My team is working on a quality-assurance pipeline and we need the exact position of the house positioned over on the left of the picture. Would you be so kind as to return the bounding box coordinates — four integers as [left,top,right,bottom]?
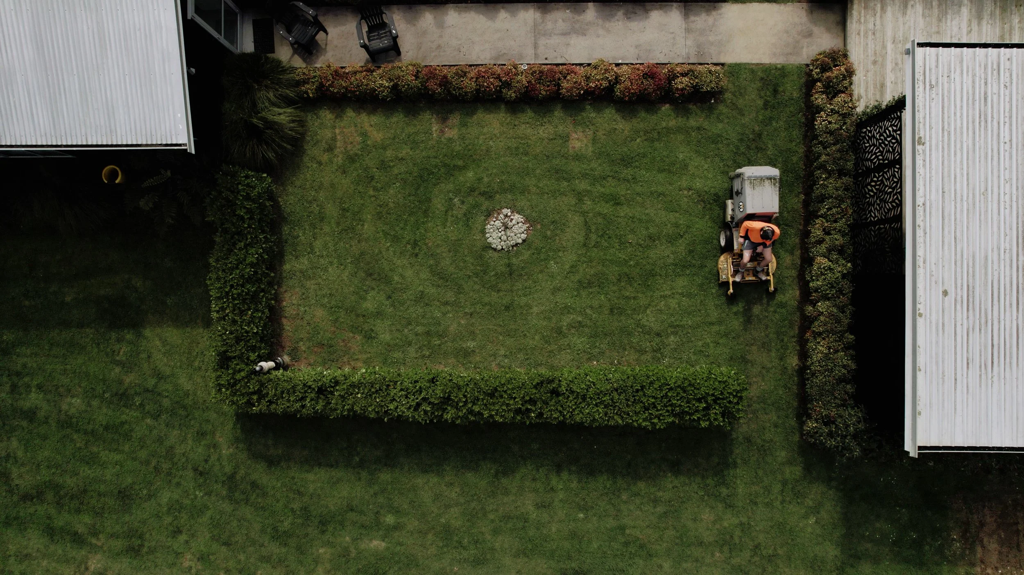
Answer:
[0,0,249,168]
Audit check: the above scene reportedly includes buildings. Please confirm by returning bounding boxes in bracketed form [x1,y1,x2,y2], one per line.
[0,0,249,168]
[857,39,1024,458]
